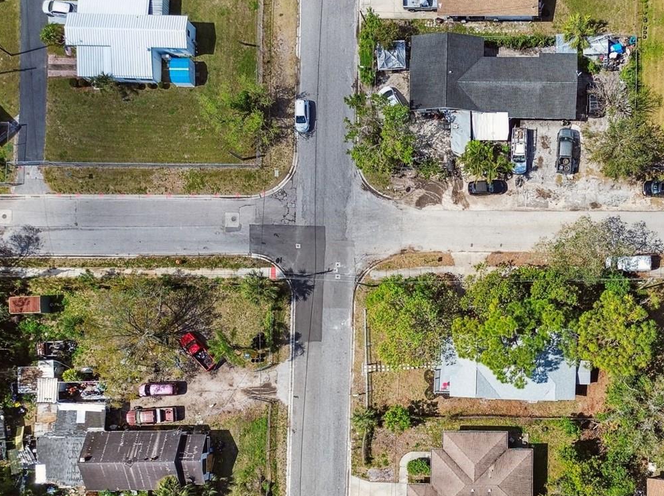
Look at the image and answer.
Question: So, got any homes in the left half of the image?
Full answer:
Yes, the scene does show a home in the left half of the image.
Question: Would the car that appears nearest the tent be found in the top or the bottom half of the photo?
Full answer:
You can find the car that appears nearest the tent in the top half.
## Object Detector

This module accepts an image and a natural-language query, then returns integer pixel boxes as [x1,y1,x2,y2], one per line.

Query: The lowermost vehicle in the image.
[127,408,176,425]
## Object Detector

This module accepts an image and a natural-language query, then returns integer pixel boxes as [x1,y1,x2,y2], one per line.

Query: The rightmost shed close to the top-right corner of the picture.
[582,33,615,59]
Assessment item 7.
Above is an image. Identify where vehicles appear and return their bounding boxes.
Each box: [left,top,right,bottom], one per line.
[380,82,408,116]
[605,254,652,271]
[140,381,180,398]
[469,179,506,195]
[643,179,664,197]
[127,408,176,425]
[557,129,574,174]
[179,332,220,373]
[510,127,528,174]
[293,98,310,134]
[42,0,78,18]
[403,0,437,10]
